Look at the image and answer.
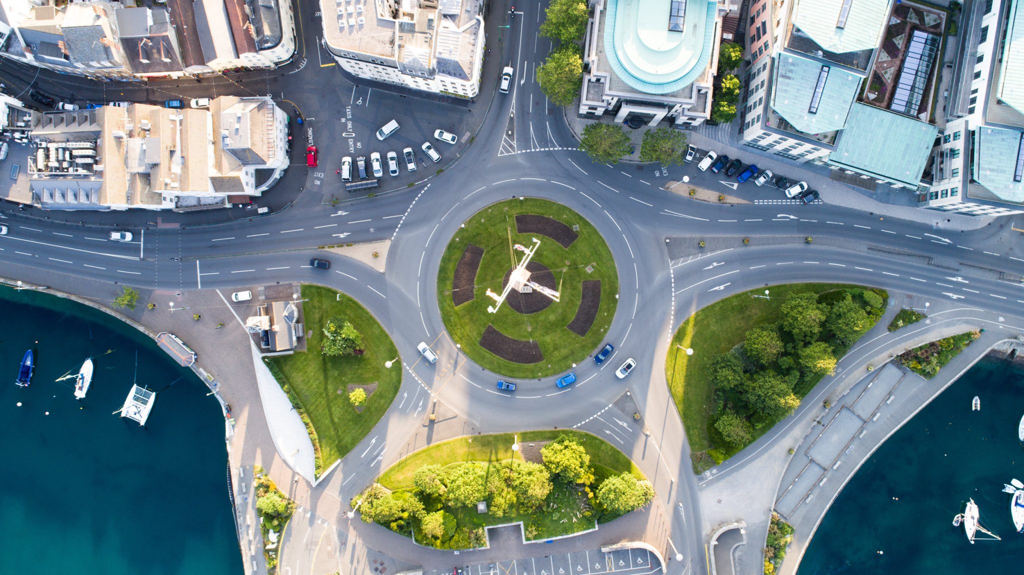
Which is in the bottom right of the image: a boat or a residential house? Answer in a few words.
boat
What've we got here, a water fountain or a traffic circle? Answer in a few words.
traffic circle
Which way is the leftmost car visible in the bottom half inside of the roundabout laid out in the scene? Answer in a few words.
diagonally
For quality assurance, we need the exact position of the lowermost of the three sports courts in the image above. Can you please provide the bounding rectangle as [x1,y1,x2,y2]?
[775,460,828,520]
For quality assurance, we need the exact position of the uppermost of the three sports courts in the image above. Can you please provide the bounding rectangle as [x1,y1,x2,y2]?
[849,362,907,422]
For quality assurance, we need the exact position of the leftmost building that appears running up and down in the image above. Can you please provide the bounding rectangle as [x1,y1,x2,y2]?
[0,93,49,205]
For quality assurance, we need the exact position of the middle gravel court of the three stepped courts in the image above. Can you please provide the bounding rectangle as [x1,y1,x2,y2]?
[804,404,867,470]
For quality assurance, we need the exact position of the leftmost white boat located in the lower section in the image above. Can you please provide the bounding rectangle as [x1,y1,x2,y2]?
[51,360,92,398]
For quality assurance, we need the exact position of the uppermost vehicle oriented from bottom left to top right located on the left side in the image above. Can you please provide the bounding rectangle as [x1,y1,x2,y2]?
[376,119,400,140]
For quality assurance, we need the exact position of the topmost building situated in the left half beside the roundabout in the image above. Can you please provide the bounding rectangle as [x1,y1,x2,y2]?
[319,0,488,100]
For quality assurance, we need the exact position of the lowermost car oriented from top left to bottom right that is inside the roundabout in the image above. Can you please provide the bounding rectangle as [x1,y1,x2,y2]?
[418,341,438,364]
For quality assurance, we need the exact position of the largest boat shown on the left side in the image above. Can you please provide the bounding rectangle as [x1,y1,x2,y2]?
[106,383,156,430]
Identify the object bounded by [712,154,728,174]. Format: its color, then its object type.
blue car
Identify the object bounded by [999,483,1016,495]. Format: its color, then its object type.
white boat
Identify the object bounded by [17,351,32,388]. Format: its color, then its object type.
blue boat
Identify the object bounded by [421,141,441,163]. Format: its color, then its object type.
white car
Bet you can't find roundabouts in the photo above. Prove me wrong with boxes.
[384,144,673,432]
